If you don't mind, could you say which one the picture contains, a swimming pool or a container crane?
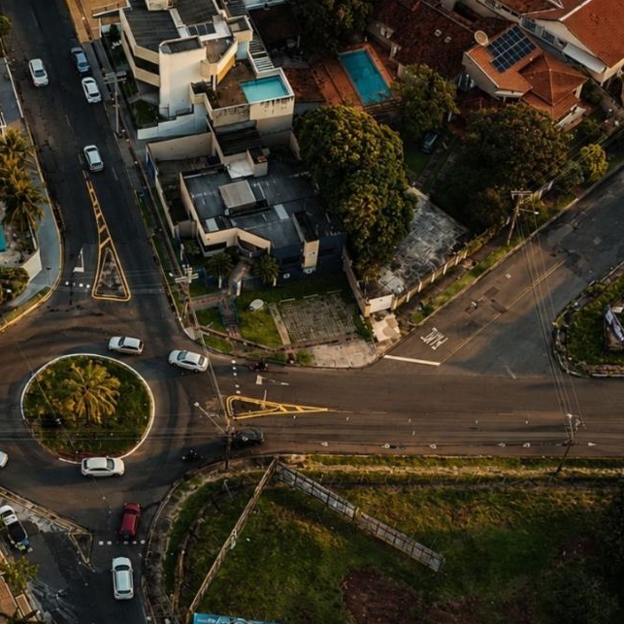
swimming pool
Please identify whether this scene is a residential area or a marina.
residential area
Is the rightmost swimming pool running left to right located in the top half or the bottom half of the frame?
top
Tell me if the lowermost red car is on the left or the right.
left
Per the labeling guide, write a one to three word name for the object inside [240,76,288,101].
swimming pool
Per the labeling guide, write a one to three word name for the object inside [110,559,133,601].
car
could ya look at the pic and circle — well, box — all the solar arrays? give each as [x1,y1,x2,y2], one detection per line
[188,24,216,35]
[487,26,536,72]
